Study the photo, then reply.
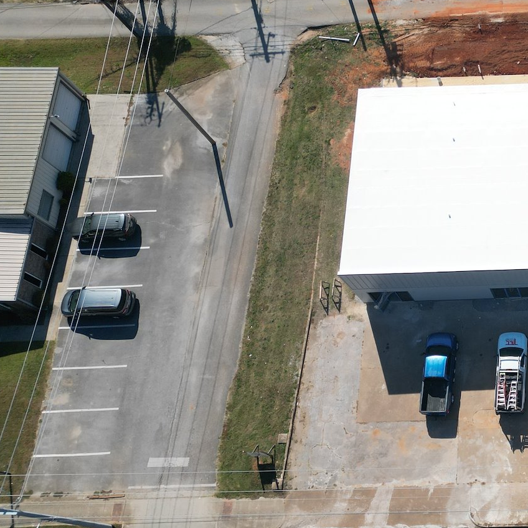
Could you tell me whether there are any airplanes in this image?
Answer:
No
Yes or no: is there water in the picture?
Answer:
No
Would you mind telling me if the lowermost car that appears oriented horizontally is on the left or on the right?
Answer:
left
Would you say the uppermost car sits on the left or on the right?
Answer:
left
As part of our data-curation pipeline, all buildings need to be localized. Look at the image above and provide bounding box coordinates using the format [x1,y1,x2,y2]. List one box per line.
[0,64,93,317]
[338,74,528,303]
